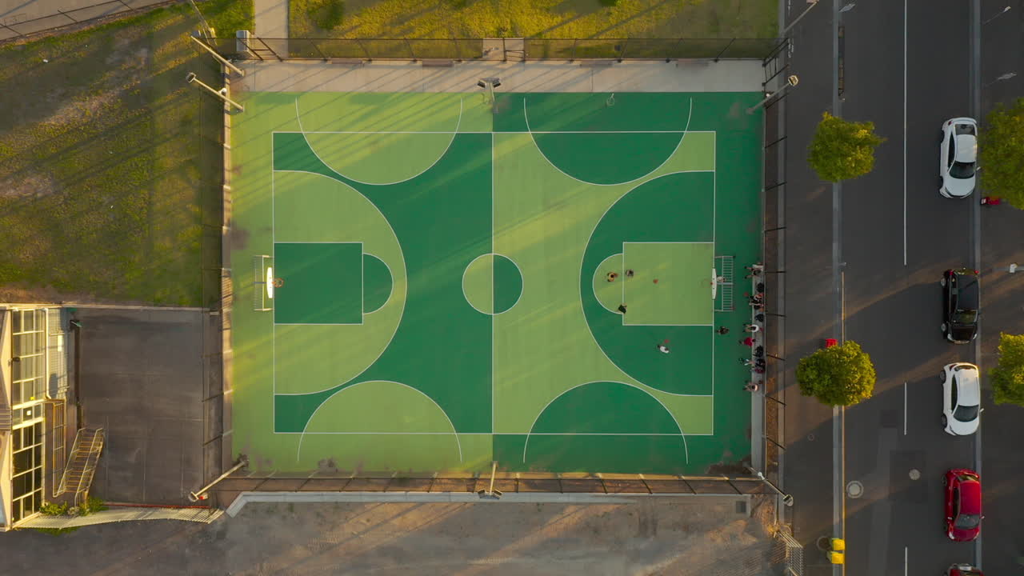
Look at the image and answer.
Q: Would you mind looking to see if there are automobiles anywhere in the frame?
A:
Yes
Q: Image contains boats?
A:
No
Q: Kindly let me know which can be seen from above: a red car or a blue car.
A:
red car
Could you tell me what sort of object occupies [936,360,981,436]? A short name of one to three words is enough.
car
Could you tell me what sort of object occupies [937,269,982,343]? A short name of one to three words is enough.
car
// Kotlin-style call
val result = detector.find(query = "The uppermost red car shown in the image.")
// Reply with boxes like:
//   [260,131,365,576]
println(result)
[941,466,984,542]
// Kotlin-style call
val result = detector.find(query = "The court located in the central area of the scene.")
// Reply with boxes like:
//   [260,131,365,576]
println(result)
[233,92,762,472]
